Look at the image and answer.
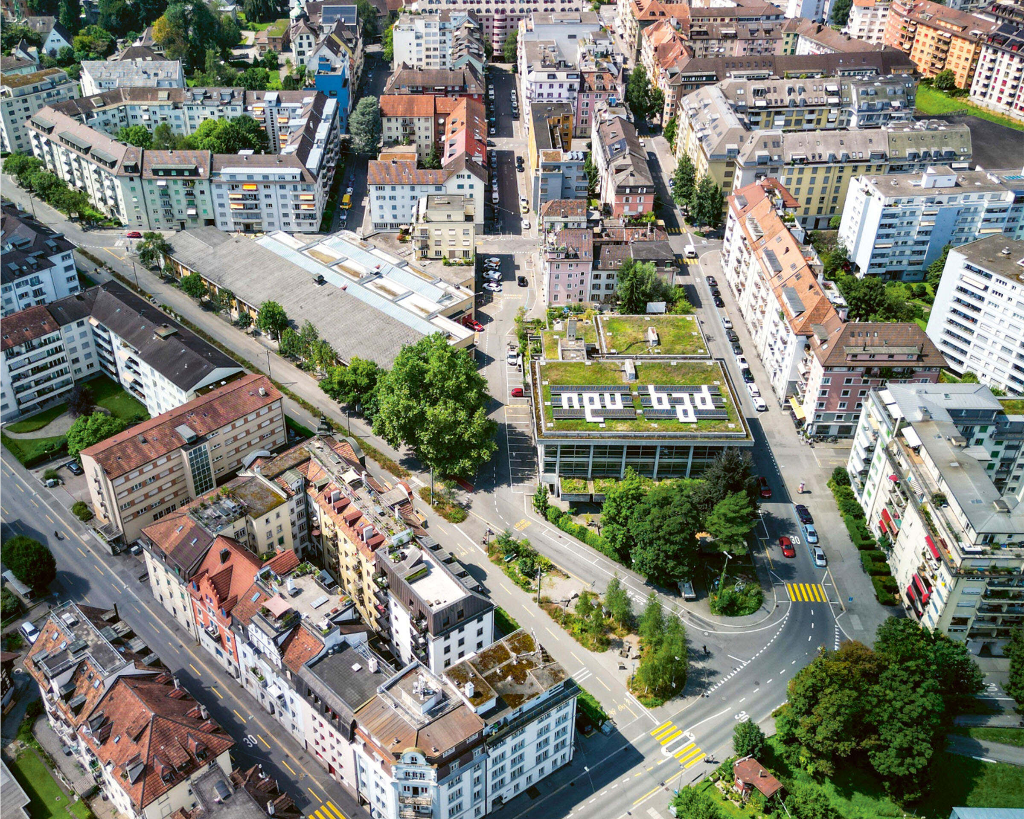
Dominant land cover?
buildings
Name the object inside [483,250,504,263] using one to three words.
vehicle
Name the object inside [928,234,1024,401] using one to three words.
building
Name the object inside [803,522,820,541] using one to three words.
car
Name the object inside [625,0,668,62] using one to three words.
house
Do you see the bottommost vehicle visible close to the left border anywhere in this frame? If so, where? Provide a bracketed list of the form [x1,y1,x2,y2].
[18,616,40,640]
